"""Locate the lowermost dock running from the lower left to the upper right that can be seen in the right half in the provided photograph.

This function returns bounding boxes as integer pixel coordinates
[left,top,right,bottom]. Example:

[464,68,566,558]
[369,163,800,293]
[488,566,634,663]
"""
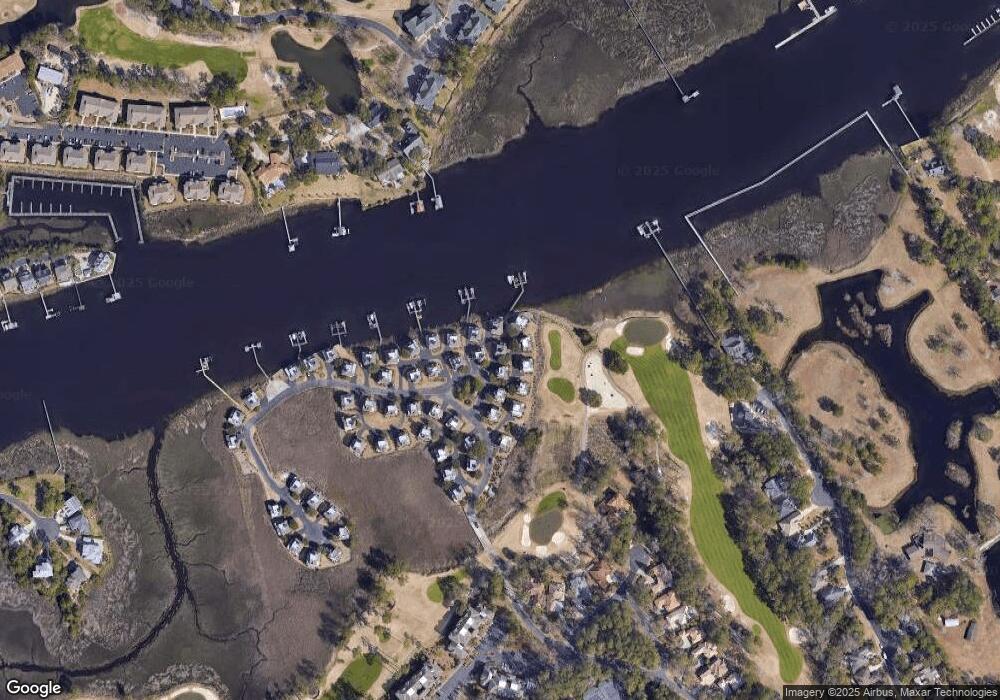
[685,111,908,290]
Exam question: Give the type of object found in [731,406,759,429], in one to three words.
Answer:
house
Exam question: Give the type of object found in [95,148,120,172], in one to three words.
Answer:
building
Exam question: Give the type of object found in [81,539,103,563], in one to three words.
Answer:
house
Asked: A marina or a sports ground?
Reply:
marina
